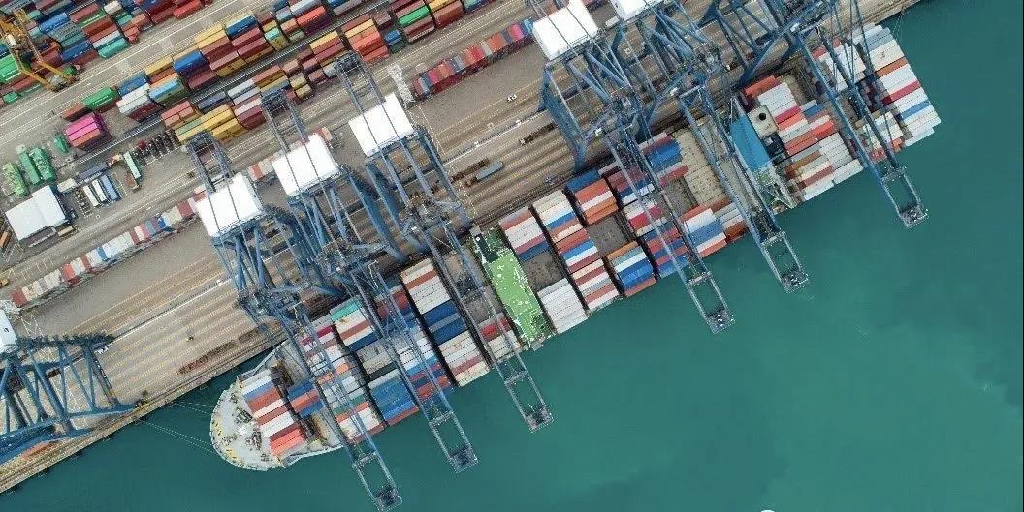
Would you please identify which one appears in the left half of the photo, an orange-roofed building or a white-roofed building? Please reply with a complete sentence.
You can see a white-roofed building in the left half of the photo.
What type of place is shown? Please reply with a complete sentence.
This image shows a port.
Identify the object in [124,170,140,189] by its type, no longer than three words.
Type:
vehicle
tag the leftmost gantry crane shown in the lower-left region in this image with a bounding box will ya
[0,302,153,469]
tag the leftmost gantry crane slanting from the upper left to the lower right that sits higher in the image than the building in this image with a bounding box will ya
[0,3,77,93]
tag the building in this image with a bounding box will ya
[10,185,77,250]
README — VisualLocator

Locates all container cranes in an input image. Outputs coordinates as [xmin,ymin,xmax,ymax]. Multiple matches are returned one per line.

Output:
[593,0,813,292]
[184,123,405,512]
[524,0,739,333]
[0,3,77,93]
[257,85,480,476]
[0,302,153,469]
[694,0,933,225]
[330,48,556,434]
